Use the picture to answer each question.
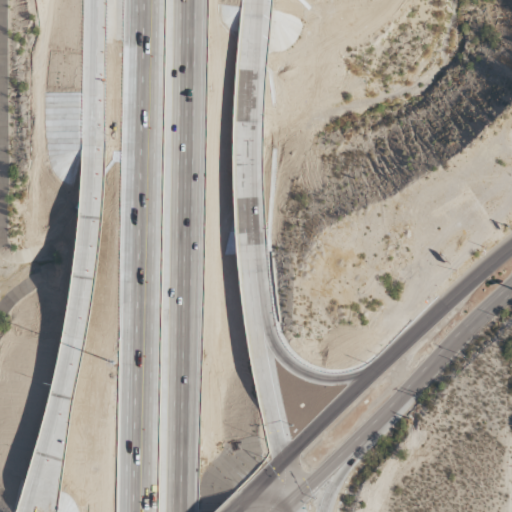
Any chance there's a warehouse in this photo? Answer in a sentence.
No, this view has no warehouse in it.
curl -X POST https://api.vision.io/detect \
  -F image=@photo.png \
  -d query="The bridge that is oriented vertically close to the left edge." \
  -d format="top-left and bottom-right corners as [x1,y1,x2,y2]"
[16,0,106,512]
